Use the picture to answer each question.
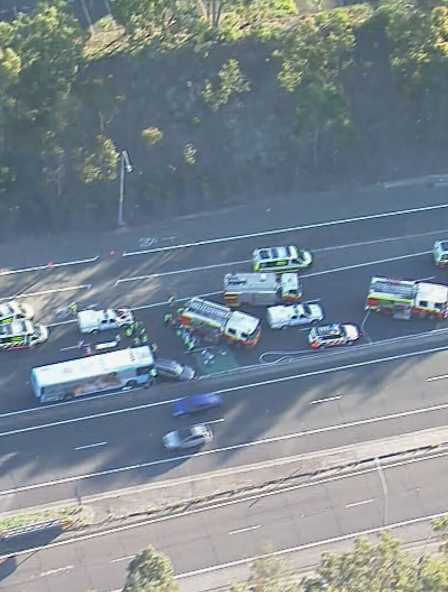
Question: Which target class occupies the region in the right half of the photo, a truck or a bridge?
truck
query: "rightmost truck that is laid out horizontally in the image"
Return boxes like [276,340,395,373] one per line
[367,278,448,321]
